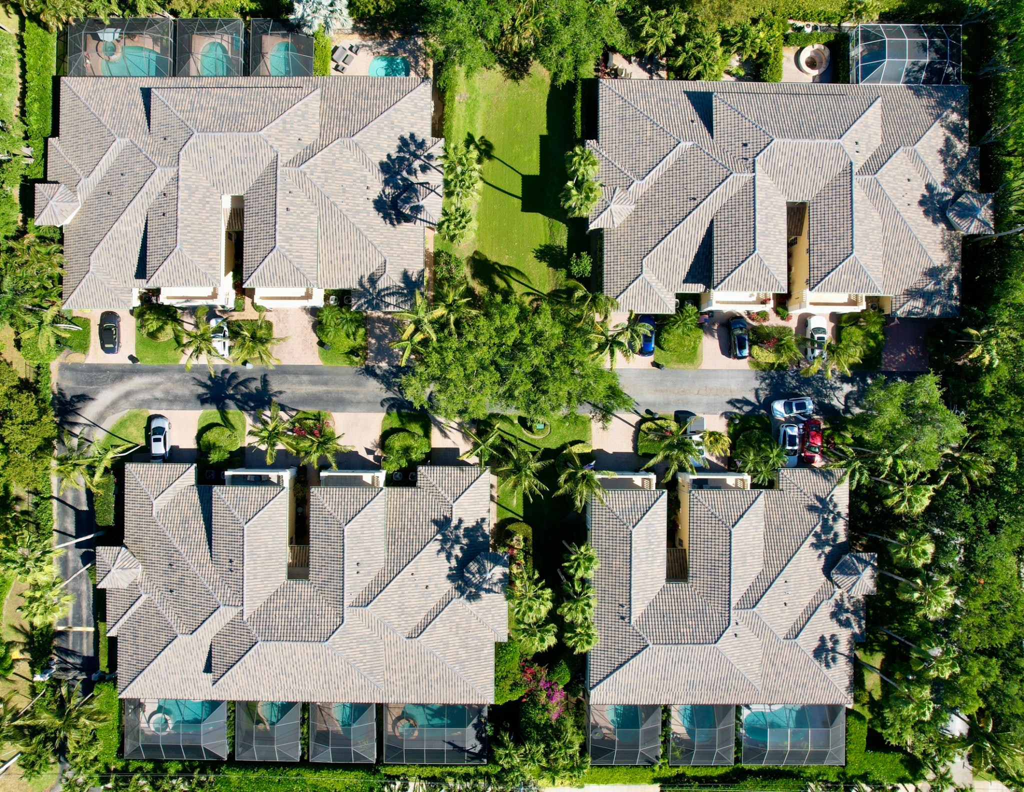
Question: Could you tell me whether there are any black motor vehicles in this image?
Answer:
Yes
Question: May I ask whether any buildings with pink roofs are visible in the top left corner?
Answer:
No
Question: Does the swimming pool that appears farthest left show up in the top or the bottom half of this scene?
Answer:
top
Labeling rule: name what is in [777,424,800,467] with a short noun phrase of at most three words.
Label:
car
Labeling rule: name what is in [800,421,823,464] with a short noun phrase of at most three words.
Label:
car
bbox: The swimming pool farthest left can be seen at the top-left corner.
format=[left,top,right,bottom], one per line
[56,18,174,76]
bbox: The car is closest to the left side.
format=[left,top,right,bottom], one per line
[99,312,123,355]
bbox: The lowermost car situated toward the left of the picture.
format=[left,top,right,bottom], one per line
[148,417,172,461]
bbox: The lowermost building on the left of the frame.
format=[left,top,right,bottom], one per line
[95,462,511,704]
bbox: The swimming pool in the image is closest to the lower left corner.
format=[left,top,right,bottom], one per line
[129,701,229,756]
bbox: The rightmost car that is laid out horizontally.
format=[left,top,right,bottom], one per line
[769,397,814,418]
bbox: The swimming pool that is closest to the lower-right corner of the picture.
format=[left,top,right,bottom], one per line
[743,704,840,759]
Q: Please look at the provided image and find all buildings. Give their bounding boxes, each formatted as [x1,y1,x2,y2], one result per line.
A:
[32,74,447,314]
[583,78,994,320]
[95,462,511,704]
[495,466,879,705]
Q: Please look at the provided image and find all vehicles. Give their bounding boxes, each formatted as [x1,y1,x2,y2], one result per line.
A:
[99,312,123,355]
[769,397,814,418]
[805,318,828,359]
[148,417,172,461]
[727,317,750,360]
[800,421,823,464]
[799,420,805,436]
[637,316,657,357]
[777,424,800,467]
[209,318,232,359]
